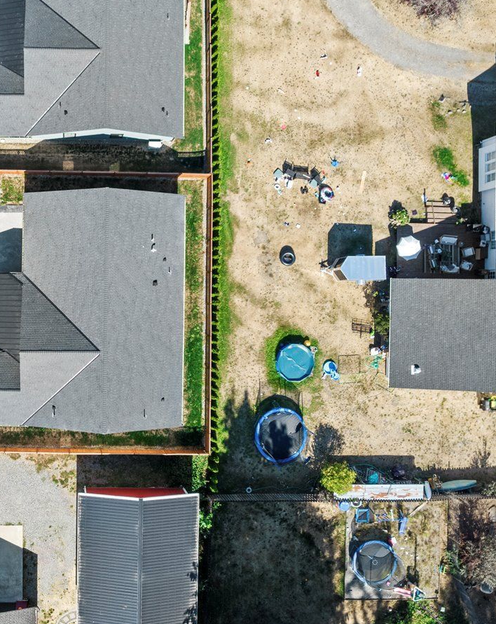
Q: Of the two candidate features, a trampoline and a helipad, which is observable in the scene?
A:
trampoline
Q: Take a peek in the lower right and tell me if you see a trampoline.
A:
Yes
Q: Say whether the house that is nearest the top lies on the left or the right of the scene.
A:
left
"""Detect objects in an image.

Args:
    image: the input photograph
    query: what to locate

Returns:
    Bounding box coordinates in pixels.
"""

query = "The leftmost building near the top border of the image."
[0,0,186,142]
